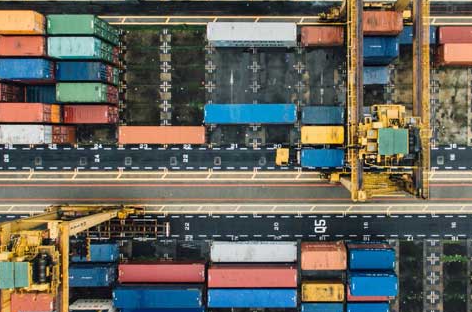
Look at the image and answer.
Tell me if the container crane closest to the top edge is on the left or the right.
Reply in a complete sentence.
The container crane closest to the top edge sits on the right side.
